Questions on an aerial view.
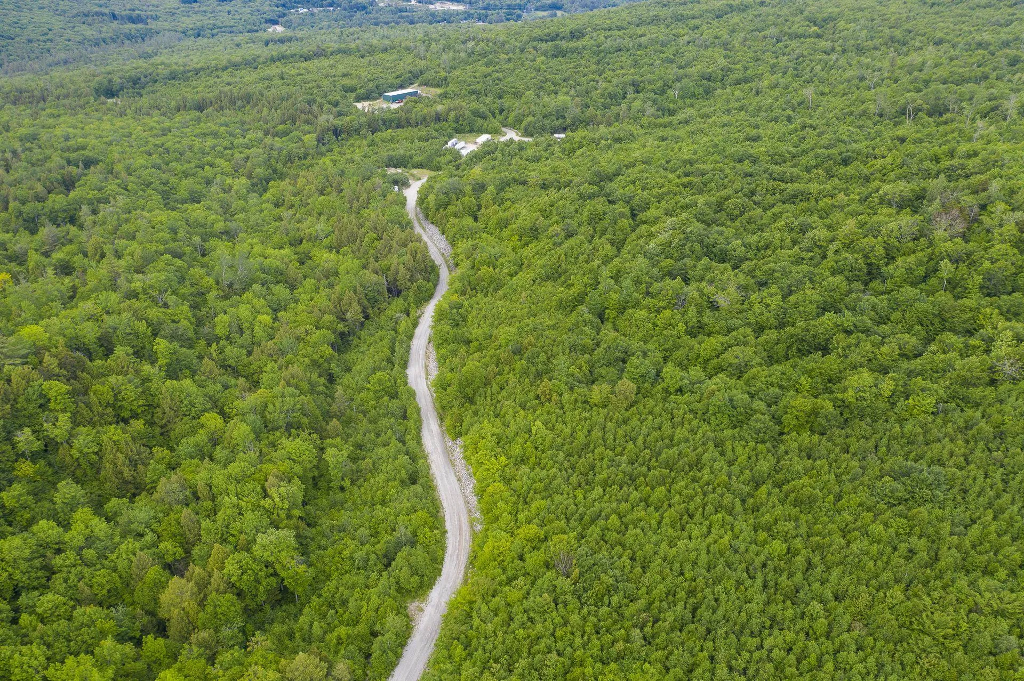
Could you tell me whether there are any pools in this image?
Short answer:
No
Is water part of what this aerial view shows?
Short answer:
No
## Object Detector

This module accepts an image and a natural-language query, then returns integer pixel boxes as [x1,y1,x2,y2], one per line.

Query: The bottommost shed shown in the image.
[382,87,419,102]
